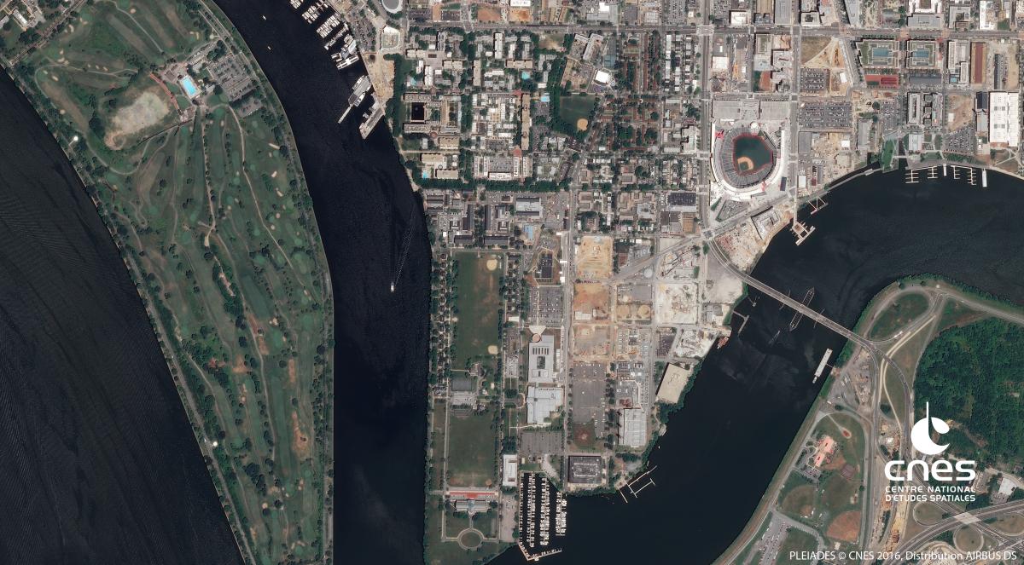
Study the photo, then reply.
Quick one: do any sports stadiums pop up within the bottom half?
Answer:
No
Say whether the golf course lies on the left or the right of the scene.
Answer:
left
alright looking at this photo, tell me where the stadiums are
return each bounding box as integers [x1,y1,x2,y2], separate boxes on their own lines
[711,119,785,199]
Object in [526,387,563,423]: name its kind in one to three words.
building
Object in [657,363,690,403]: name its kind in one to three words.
building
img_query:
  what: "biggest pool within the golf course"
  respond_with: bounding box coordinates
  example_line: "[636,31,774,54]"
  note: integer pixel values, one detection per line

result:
[181,74,199,96]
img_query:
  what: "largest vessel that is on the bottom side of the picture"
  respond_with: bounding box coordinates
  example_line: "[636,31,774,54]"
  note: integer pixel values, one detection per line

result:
[815,349,831,377]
